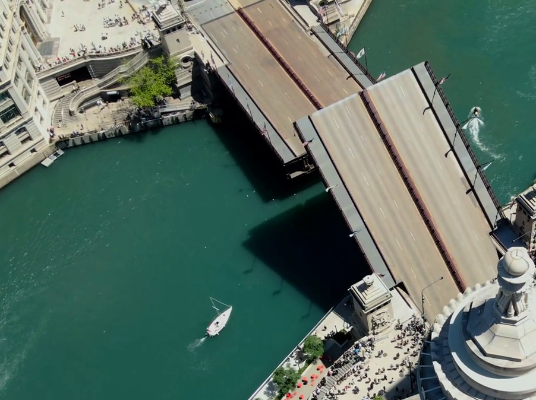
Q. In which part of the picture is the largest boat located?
bottom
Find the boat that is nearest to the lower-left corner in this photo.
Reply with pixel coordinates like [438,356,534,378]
[202,296,234,340]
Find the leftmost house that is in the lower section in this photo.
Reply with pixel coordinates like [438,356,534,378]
[347,273,403,345]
